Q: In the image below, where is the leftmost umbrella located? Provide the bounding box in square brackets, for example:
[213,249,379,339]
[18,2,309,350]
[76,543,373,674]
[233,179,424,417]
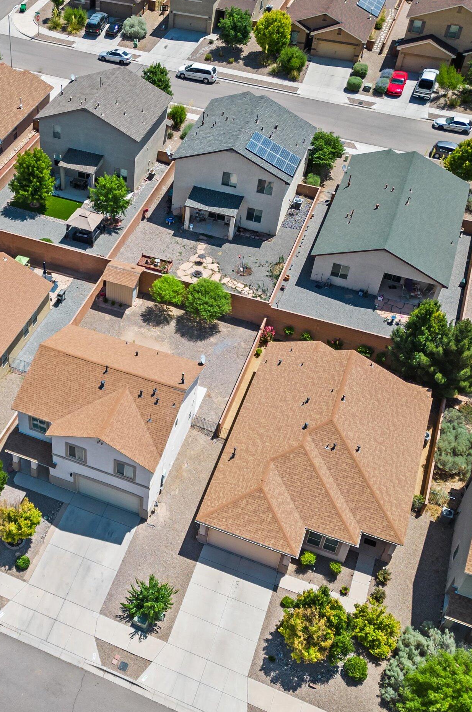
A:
[13,255,35,268]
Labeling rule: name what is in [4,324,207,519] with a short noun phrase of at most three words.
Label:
house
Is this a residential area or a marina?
residential area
